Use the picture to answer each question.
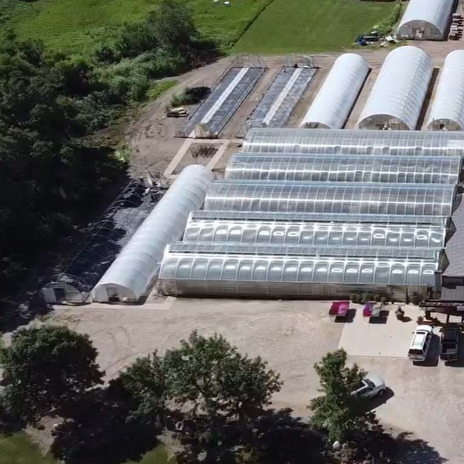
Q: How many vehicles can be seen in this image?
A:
3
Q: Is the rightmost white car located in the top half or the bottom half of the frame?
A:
bottom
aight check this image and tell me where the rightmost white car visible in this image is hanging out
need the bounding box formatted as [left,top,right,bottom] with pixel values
[408,325,431,364]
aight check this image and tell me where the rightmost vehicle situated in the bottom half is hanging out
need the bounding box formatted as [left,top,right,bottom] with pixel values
[436,322,461,364]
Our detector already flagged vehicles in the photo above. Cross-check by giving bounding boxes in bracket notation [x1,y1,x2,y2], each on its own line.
[408,325,431,364]
[358,371,399,401]
[436,322,461,364]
